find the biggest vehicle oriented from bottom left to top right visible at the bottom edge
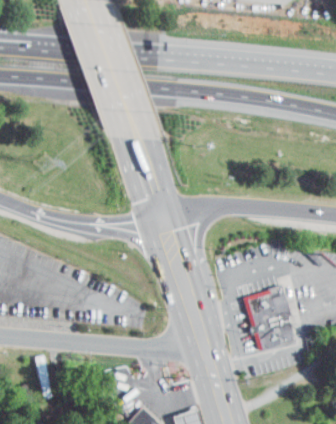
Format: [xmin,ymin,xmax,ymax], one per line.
[121,388,142,404]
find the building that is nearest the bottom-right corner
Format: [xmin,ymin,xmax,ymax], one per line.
[243,286,296,350]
